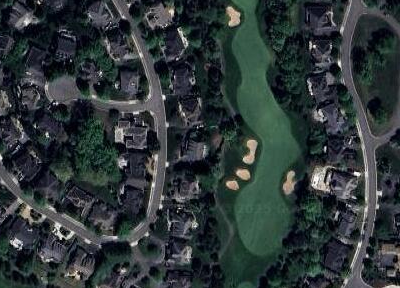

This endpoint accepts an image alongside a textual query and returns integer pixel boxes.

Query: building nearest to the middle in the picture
[176,130,206,161]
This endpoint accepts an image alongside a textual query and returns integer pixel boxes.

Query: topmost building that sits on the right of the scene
[306,3,334,35]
